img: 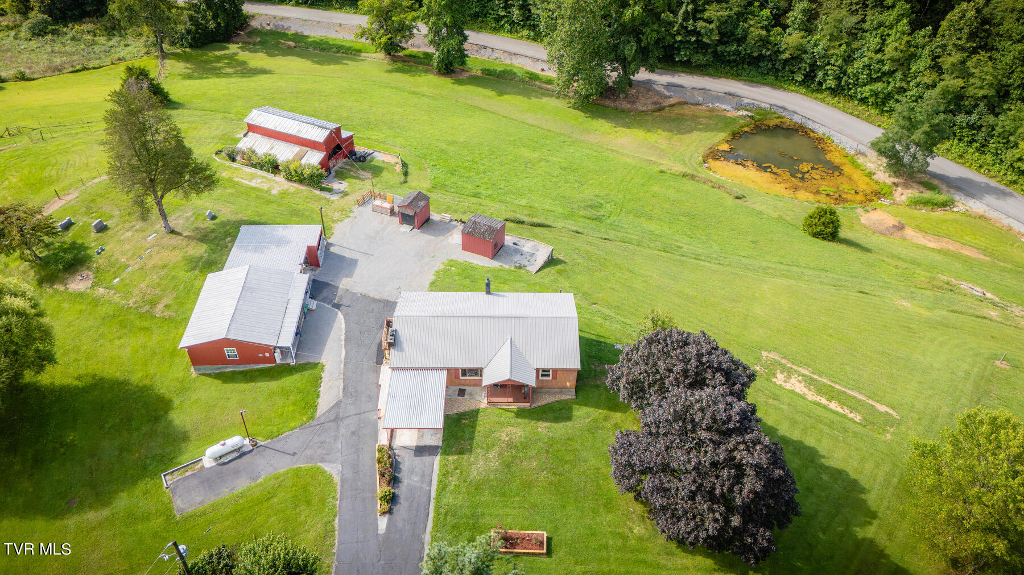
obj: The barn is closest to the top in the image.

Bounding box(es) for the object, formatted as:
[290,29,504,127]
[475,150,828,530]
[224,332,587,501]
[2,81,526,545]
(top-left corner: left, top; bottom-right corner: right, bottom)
[239,107,355,174]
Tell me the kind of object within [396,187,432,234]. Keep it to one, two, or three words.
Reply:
shed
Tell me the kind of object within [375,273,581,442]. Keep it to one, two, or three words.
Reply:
house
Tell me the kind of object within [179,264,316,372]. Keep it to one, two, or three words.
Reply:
building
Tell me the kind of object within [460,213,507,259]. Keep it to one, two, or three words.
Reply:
shed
